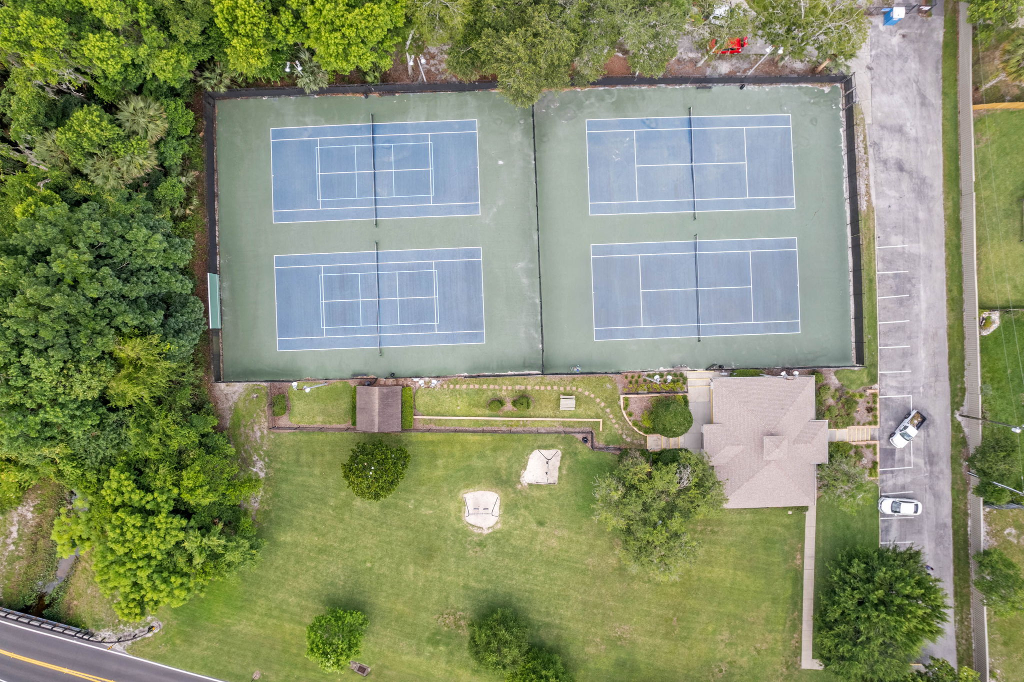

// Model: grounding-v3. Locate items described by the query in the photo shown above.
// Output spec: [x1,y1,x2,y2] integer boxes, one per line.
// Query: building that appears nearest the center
[356,386,402,433]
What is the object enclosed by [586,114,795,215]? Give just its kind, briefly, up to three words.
tennis court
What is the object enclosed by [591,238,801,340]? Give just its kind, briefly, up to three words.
tennis court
